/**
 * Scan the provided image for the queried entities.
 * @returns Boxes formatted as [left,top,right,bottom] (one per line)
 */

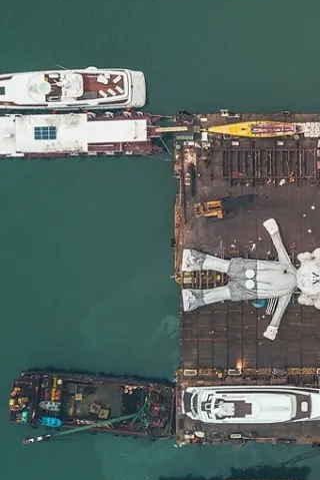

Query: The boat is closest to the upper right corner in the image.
[203,121,305,137]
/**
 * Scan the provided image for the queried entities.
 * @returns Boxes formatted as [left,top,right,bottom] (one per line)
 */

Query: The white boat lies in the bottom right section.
[182,385,320,423]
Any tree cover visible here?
No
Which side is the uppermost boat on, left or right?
left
